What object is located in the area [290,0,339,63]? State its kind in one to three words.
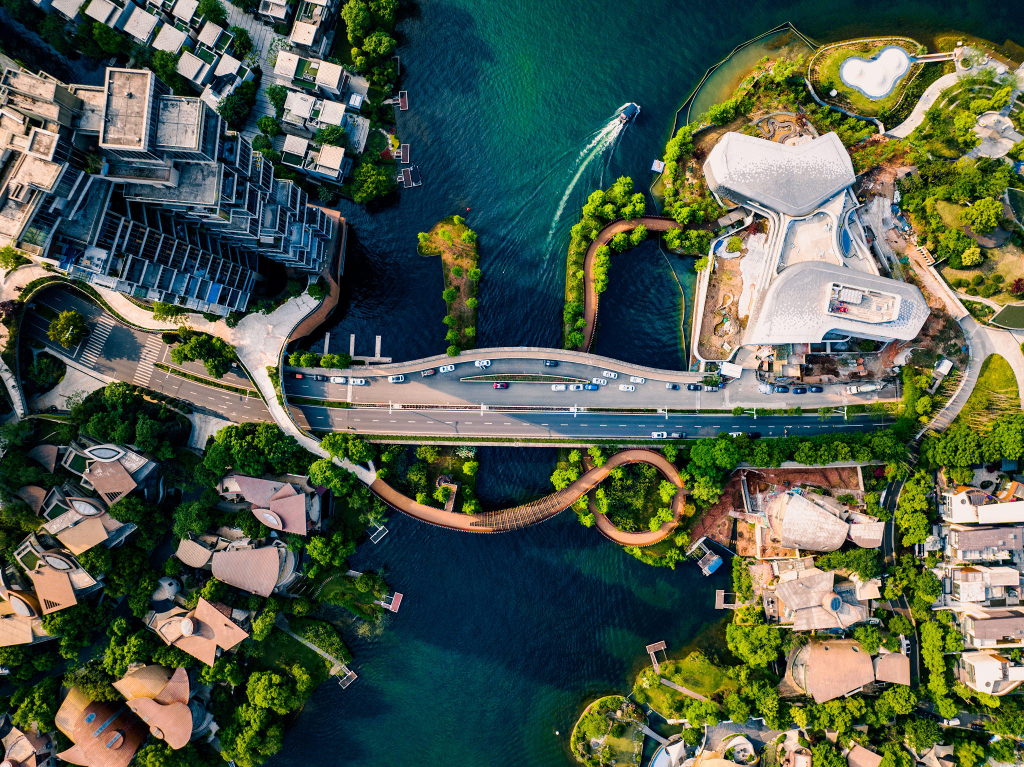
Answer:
house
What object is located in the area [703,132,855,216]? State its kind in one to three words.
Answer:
building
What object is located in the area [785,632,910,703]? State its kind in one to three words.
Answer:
house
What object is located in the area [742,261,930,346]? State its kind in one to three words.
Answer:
building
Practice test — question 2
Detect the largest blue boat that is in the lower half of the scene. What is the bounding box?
[703,558,721,575]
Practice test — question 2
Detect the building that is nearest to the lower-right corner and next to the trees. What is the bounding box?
[954,647,1024,696]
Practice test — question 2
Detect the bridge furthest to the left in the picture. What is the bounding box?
[0,362,25,419]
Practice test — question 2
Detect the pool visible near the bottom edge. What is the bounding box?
[643,734,674,767]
